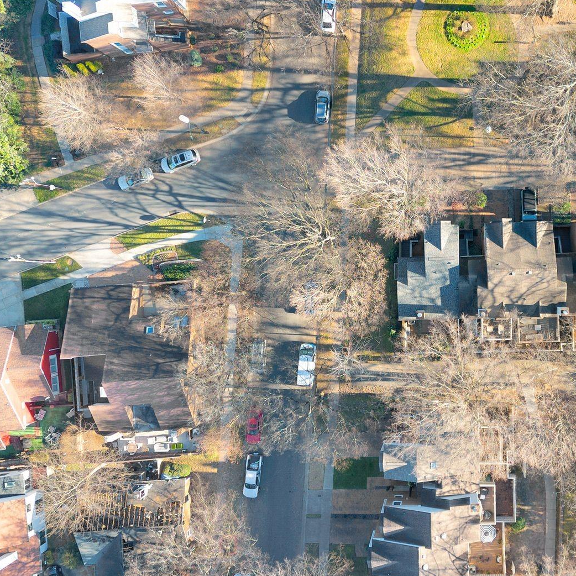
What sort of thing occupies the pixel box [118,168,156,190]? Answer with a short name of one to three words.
car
